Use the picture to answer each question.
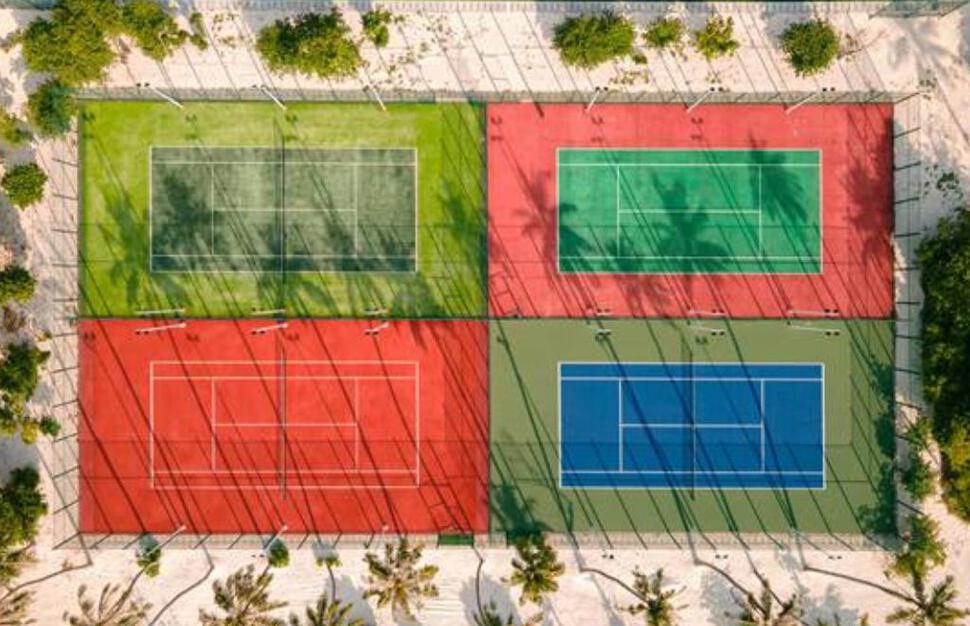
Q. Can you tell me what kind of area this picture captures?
sports ground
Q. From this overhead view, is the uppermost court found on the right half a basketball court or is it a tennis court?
tennis court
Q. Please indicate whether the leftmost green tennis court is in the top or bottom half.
top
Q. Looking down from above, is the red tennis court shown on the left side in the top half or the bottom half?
bottom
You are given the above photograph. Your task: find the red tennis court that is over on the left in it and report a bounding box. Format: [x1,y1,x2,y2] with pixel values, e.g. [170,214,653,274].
[79,320,488,533]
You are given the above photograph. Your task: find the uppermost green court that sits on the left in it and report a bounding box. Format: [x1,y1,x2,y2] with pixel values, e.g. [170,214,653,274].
[79,102,487,317]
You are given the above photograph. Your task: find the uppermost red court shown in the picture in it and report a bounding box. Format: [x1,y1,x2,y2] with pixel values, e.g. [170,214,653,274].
[488,103,893,317]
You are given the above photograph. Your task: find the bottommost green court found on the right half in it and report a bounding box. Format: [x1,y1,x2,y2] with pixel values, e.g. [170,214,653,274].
[489,320,894,534]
